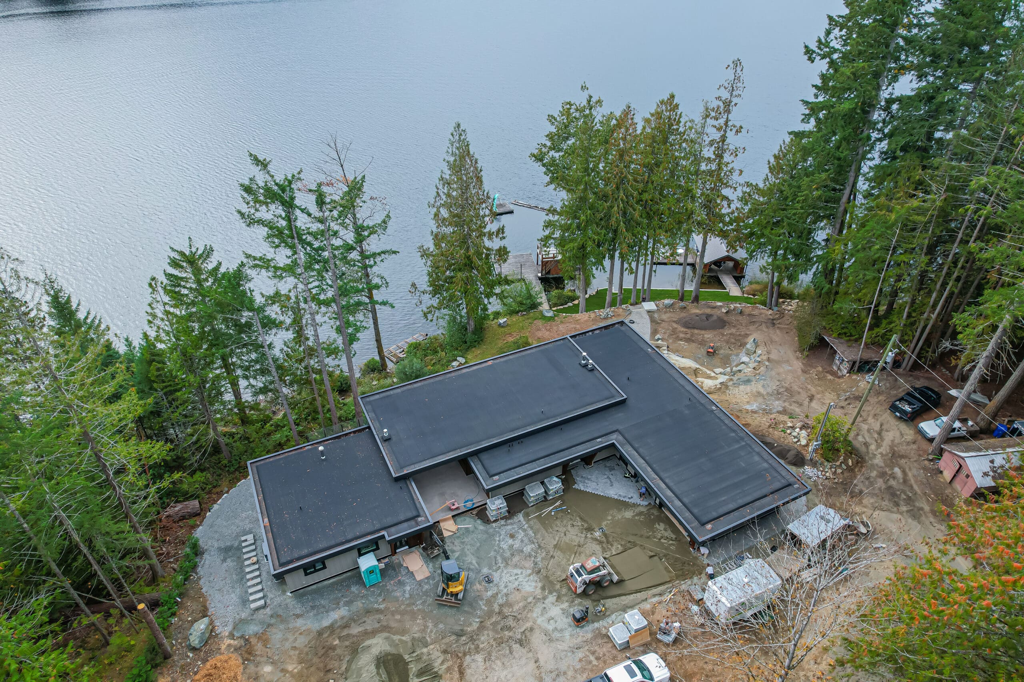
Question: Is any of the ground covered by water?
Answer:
Yes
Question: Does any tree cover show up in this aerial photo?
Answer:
Yes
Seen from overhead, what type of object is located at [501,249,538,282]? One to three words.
pier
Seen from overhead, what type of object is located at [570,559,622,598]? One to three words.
work vehicle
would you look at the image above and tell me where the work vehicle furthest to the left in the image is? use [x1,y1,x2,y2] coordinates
[435,527,470,611]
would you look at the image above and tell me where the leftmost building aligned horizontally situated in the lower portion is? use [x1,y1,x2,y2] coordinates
[248,315,812,594]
